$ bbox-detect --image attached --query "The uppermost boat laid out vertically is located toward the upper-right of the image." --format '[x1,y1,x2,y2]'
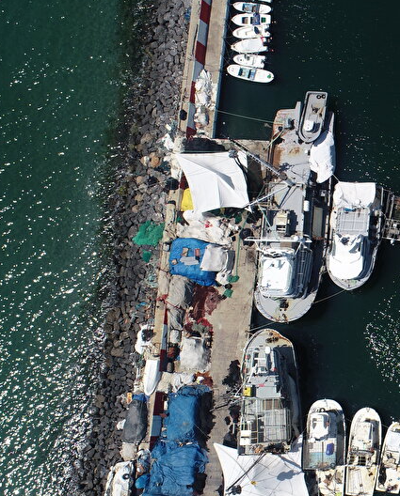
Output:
[299,90,328,144]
